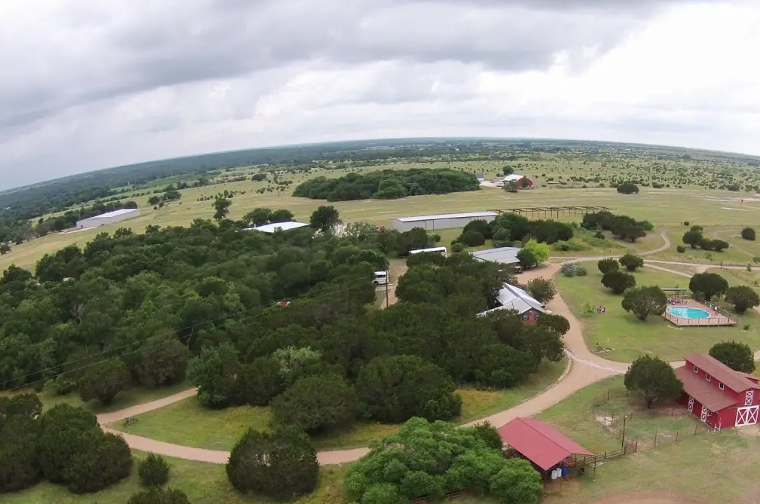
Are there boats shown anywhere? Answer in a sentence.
No, there isn't any boat down there.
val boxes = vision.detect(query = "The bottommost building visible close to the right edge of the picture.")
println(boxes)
[665,351,760,429]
